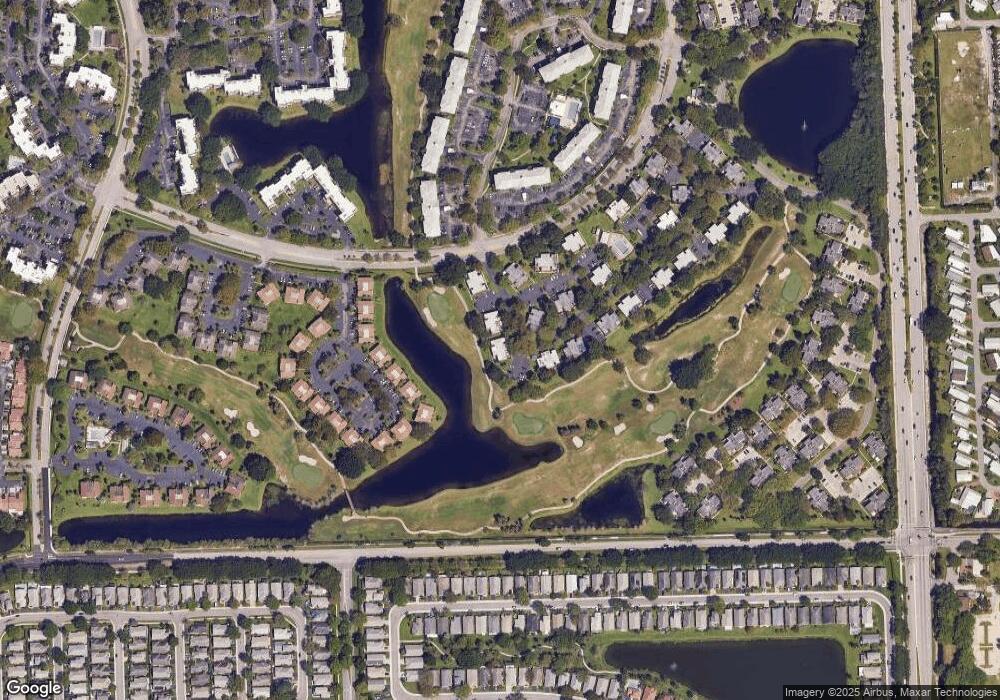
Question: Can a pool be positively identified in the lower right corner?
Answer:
No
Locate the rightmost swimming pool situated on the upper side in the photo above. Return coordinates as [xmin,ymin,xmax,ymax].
[607,232,633,260]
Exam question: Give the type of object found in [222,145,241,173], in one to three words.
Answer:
swimming pool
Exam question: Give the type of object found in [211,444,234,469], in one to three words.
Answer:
house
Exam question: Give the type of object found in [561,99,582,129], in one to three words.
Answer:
swimming pool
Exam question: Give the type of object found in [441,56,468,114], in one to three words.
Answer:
building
